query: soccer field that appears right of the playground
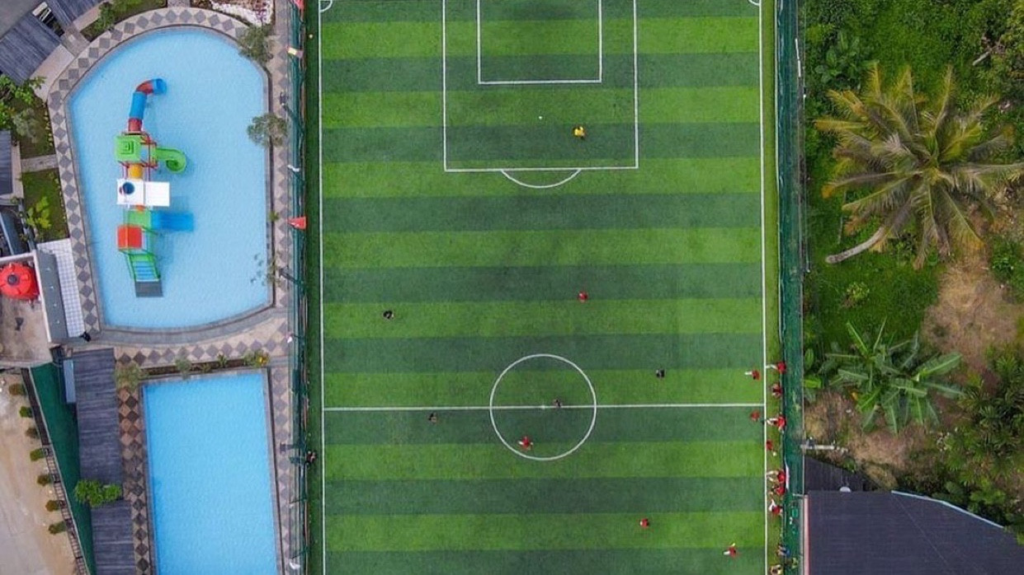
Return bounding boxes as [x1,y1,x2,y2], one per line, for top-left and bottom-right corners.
[305,0,782,575]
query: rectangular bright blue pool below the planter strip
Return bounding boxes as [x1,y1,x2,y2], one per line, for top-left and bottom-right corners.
[141,369,282,575]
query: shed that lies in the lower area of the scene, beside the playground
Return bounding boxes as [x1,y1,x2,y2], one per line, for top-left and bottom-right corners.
[73,349,125,504]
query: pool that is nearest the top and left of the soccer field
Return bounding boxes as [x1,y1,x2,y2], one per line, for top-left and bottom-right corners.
[64,25,274,334]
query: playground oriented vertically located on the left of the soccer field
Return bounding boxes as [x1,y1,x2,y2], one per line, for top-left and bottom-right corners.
[116,75,194,297]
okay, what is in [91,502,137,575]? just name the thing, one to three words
shed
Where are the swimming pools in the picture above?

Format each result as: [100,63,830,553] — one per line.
[64,25,274,334]
[141,369,282,575]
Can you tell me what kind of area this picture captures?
sports ground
